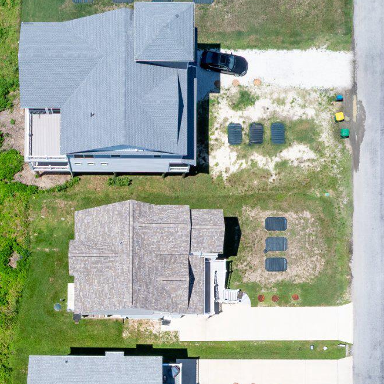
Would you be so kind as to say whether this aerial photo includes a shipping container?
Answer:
No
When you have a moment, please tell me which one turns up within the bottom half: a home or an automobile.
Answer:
home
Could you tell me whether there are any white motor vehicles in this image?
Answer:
No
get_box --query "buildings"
[27,352,181,384]
[19,2,197,181]
[68,200,241,320]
